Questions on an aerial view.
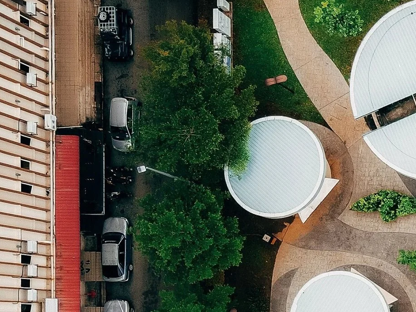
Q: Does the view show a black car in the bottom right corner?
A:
No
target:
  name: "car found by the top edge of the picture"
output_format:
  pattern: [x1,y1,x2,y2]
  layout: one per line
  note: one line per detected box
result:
[100,1,139,63]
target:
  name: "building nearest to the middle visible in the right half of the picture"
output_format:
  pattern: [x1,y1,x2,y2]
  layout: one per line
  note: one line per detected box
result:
[223,116,340,224]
